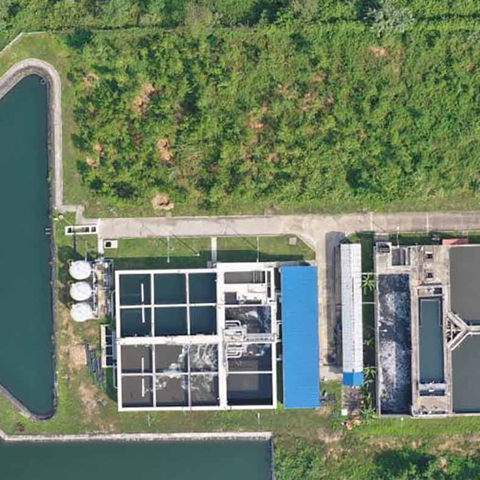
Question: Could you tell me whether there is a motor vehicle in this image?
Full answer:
No, no motor vehicle is visible in the view.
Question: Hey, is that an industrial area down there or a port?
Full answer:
This looks like an industrial area.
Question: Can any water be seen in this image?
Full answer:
Yes, water can be seen from above here.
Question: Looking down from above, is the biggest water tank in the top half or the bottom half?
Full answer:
The biggest water tank sits in the bottom half of the picture.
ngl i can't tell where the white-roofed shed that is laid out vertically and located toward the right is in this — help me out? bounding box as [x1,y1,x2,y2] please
[341,243,363,386]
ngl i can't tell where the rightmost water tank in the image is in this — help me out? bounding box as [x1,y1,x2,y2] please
[115,262,279,411]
